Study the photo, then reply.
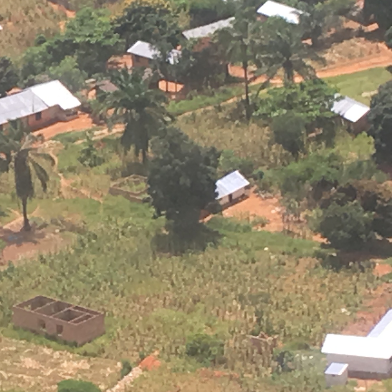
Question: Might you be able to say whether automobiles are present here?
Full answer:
No, the frame has no automobile in it.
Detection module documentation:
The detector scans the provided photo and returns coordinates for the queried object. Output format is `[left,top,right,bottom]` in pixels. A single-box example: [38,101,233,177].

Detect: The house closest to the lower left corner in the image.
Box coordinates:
[14,295,104,344]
